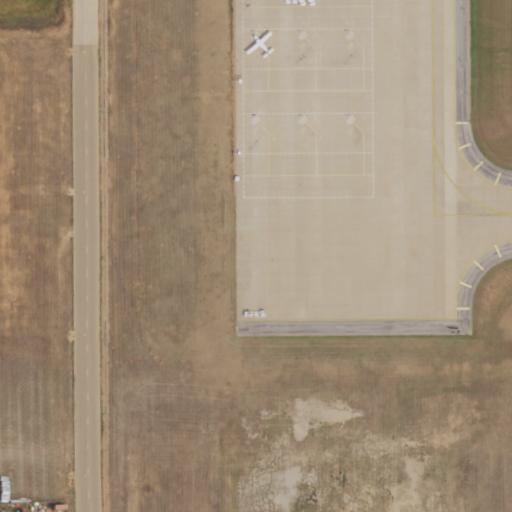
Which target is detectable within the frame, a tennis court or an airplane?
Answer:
airplane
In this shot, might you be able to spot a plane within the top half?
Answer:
Yes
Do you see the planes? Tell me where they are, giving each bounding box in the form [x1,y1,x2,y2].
[246,30,274,58]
